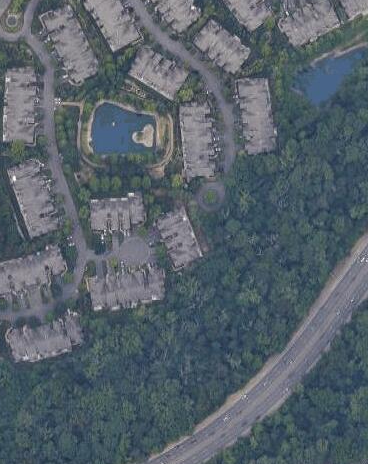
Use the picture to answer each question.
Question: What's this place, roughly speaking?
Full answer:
The area seen from above is a residential area.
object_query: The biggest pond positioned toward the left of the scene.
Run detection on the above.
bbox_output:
[91,102,156,155]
